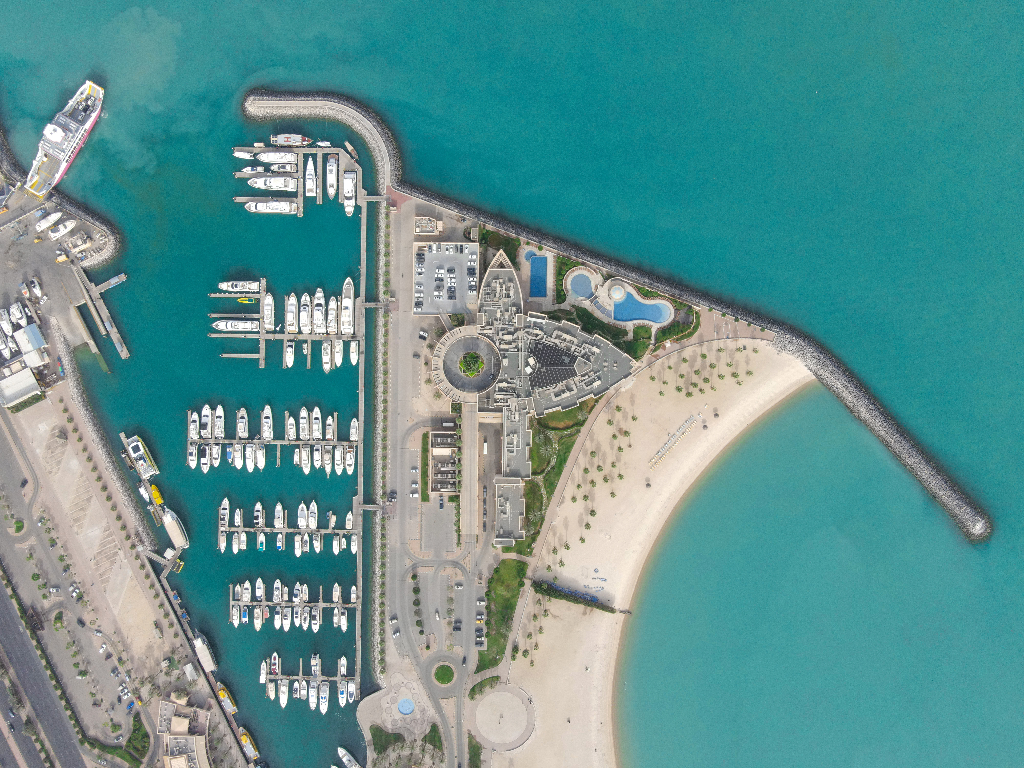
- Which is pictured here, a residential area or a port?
port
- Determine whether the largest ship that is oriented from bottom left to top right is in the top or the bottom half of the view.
top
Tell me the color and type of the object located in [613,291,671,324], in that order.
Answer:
blue swimming pool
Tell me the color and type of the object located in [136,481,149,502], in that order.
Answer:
white boat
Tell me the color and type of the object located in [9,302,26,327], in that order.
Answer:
white boat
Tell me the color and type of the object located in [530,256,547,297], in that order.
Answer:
blue swimming pool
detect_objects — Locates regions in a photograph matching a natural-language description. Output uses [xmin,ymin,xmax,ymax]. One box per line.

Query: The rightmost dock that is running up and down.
[353,207,367,700]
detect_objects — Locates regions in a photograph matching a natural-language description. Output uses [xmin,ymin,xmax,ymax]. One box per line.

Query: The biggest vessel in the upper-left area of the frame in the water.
[21,78,105,200]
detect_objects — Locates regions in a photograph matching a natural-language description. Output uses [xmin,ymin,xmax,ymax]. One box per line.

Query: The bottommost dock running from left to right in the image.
[267,657,355,698]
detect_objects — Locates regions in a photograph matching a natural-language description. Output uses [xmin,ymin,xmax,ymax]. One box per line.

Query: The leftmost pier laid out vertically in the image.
[91,273,130,359]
